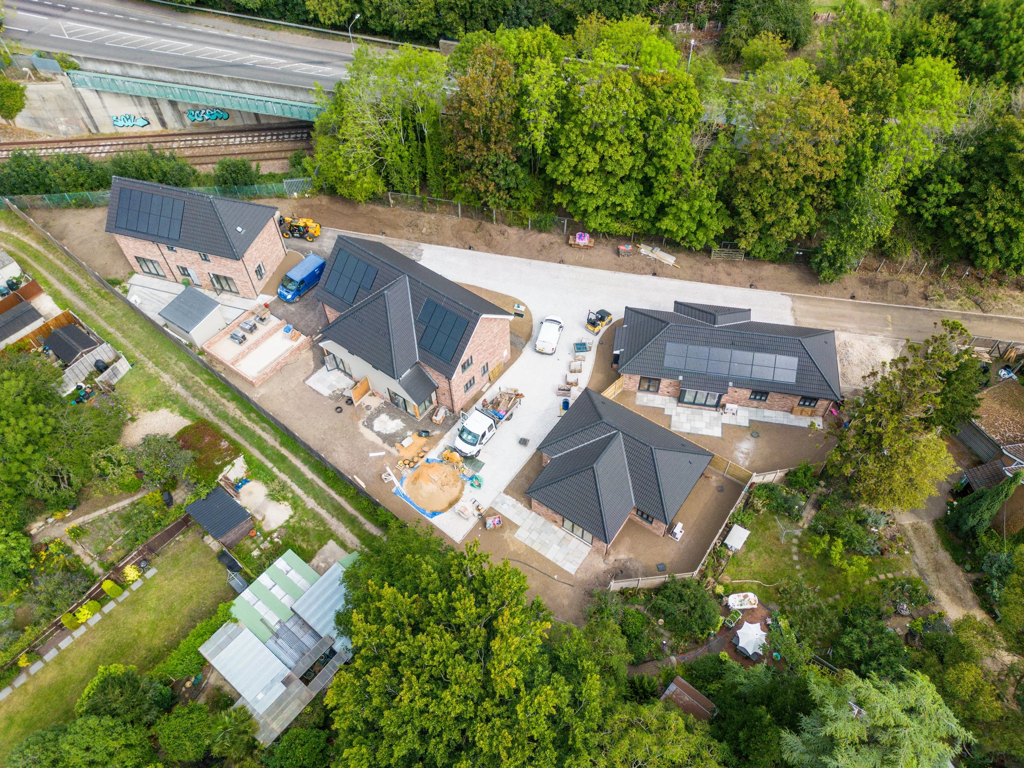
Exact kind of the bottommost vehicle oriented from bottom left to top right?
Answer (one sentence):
The bottommost vehicle oriented from bottom left to top right appears to be a truck.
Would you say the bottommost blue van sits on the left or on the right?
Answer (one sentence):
The bottommost blue van is on the left side of the image.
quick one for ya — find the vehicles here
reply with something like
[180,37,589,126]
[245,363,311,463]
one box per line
[585,309,616,336]
[448,375,523,457]
[279,214,322,241]
[534,317,562,357]
[278,251,326,297]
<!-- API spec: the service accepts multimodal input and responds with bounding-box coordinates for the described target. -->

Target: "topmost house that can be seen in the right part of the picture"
[612,299,844,417]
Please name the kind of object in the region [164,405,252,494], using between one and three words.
shed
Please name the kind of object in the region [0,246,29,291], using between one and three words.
building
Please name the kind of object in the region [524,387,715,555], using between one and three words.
house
